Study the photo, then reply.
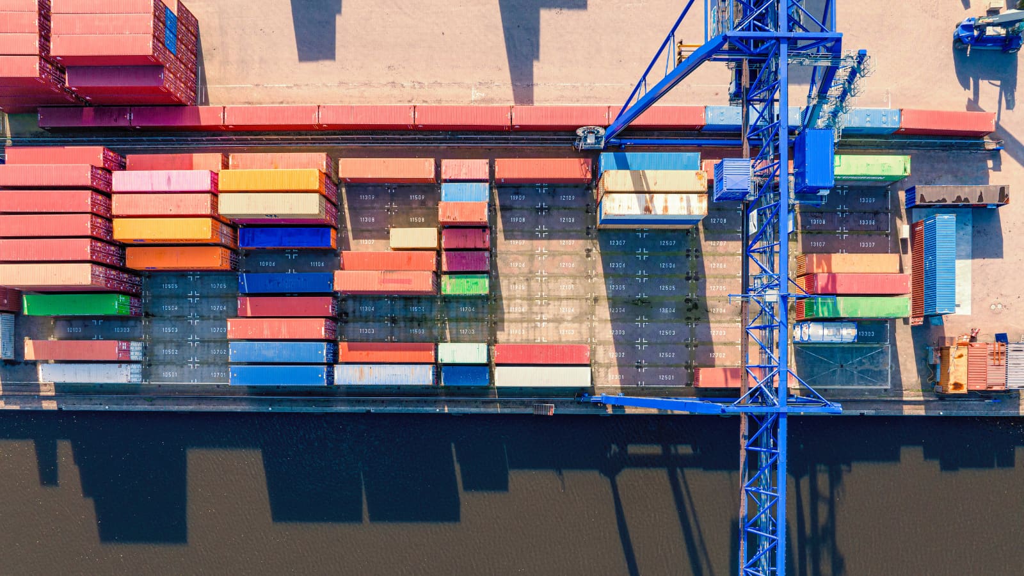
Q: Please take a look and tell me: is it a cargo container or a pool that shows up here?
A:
cargo container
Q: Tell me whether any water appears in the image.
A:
Yes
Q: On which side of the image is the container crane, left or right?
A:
right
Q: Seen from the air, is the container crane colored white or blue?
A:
blue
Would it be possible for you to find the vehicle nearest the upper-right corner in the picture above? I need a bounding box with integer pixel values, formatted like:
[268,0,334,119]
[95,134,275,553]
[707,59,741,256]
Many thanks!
[950,5,1024,60]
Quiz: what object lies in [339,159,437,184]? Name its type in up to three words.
shipping container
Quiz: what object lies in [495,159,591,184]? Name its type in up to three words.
shipping container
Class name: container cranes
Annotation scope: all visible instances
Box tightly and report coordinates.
[572,0,893,576]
